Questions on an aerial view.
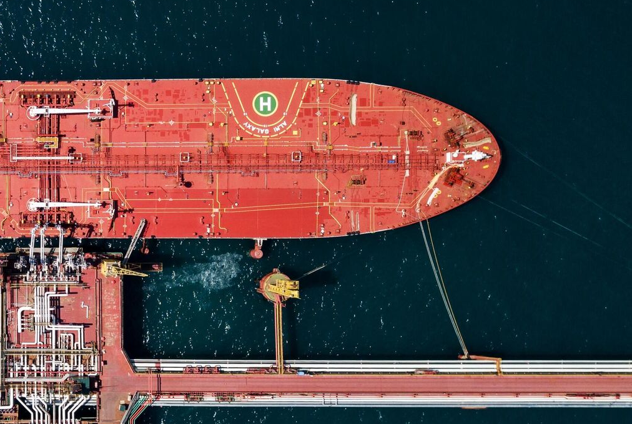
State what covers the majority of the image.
water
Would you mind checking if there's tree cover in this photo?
No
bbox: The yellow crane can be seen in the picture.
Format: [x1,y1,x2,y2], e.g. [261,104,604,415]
[102,260,149,278]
